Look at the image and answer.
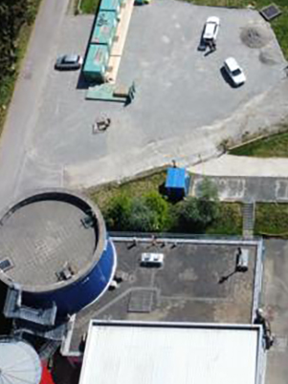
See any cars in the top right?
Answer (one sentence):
Yes, a car appears in the top right.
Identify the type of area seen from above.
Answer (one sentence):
The picture captures an industrial area.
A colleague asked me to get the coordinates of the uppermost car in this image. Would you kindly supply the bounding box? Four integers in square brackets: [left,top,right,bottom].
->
[198,19,219,46]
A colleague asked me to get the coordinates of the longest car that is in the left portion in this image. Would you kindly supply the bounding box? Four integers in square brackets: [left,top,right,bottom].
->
[53,54,83,71]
